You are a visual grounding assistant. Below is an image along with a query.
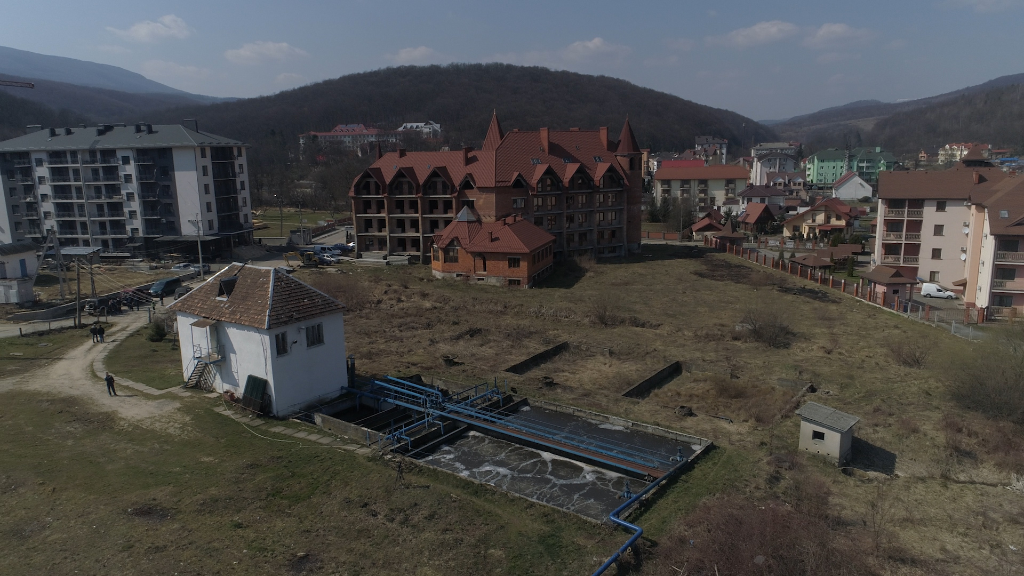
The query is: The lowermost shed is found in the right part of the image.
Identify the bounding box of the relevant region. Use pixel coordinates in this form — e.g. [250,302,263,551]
[790,398,870,466]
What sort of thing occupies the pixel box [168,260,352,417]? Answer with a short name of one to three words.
building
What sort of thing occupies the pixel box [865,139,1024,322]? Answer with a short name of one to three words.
house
